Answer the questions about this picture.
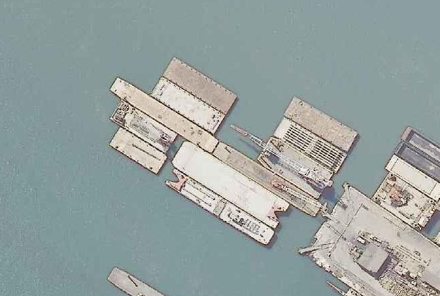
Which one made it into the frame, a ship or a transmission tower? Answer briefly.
ship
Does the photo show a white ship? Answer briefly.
Yes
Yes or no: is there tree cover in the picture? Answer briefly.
No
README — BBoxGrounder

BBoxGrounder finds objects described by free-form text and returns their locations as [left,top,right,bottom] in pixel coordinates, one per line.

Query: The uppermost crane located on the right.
[231,123,333,191]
